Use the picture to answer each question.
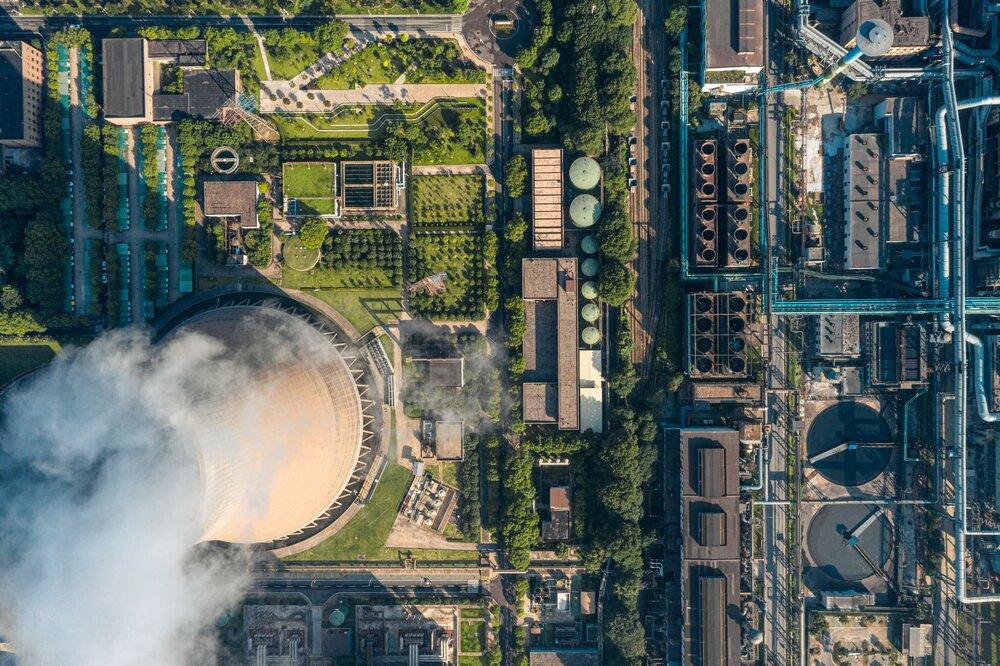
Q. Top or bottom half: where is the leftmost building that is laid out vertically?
top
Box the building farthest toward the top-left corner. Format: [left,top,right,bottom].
[0,48,42,146]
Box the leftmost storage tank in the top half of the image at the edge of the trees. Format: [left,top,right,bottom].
[208,145,239,174]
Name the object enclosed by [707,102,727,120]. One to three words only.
shed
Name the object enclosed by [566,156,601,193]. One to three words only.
storage tank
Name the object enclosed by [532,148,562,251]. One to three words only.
building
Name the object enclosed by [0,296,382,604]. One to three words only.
cooling tower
